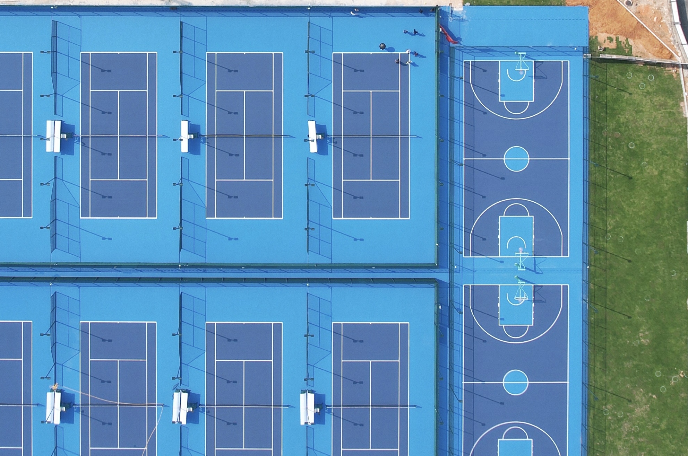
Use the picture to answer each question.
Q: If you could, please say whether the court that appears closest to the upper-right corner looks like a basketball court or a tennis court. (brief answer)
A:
basketball court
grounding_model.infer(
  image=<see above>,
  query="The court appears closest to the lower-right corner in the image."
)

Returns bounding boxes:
[462,285,569,456]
